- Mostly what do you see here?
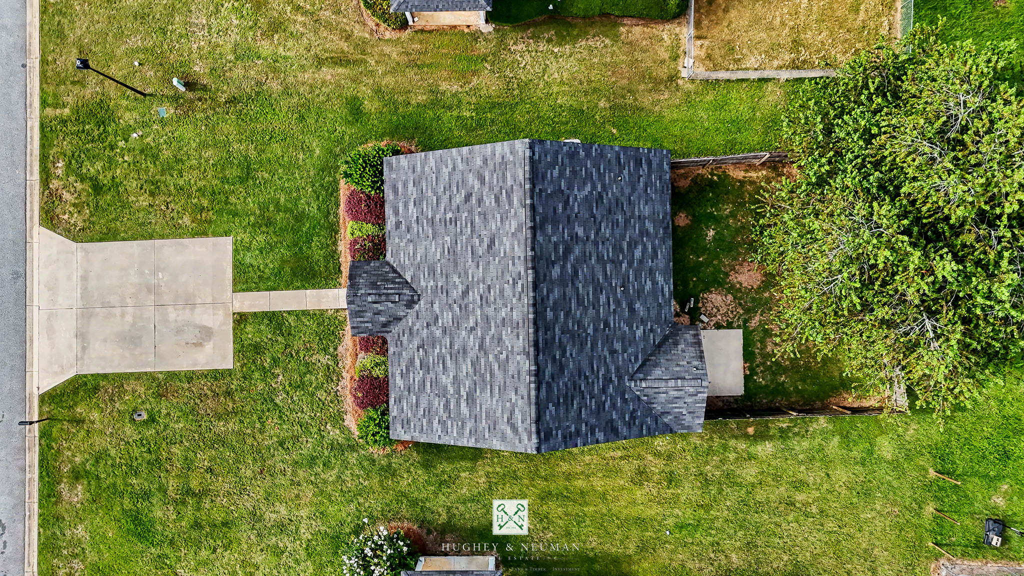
grass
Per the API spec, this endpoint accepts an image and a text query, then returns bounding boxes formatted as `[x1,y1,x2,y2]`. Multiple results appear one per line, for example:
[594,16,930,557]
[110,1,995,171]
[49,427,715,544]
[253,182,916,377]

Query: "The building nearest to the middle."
[346,138,709,453]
